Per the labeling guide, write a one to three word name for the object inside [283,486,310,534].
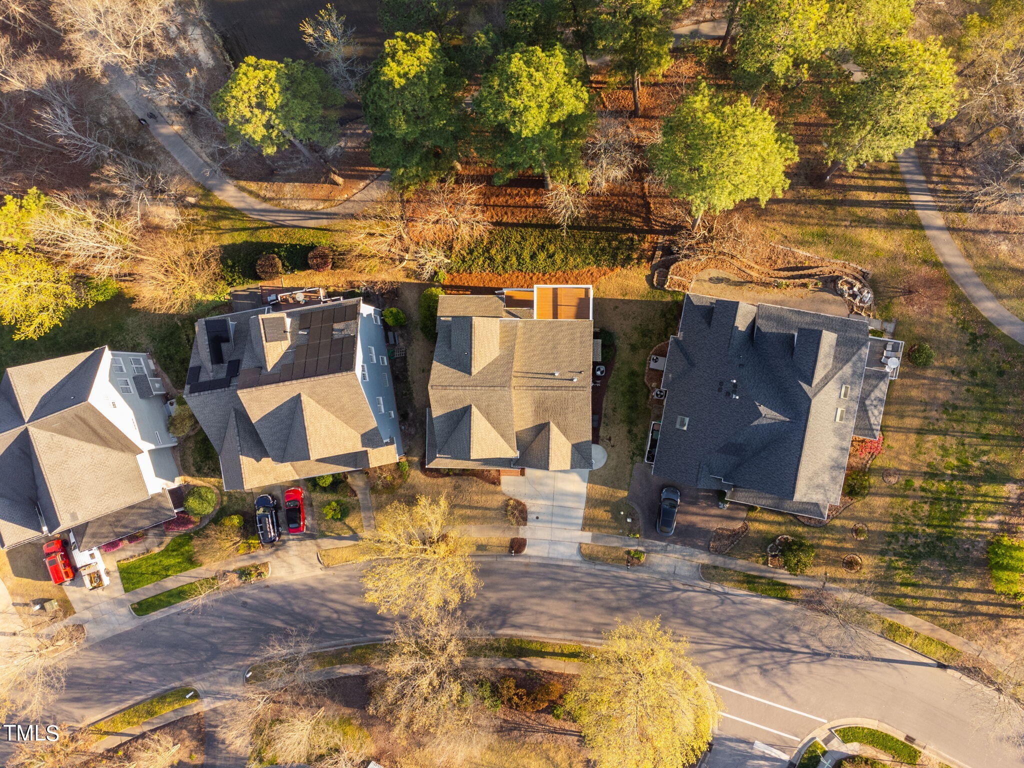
car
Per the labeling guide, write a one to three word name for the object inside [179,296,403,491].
house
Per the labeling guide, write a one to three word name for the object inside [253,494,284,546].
car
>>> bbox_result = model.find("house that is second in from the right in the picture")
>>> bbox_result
[425,284,597,477]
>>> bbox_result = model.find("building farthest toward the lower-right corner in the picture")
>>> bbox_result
[650,291,906,520]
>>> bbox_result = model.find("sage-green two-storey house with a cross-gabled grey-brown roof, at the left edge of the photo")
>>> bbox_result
[0,345,188,552]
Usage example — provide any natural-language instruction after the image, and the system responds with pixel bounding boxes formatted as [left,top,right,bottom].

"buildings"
[0,345,188,552]
[179,296,403,491]
[650,291,906,520]
[425,284,597,477]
